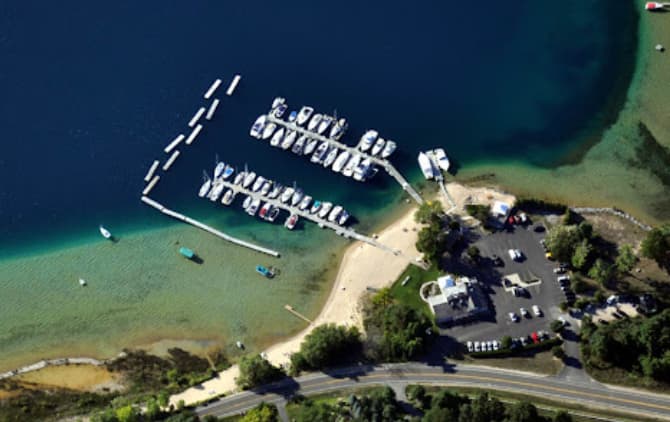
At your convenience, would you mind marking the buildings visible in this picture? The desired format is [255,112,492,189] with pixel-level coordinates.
[491,202,509,219]
[421,275,491,325]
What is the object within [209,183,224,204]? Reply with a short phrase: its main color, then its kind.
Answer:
white boat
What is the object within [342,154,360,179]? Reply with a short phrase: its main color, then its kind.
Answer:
white boat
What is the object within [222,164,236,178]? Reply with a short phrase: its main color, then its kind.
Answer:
blue boat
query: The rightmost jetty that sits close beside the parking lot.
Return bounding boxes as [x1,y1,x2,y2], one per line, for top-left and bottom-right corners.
[426,149,454,214]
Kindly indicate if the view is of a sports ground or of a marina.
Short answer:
marina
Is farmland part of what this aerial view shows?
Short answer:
No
